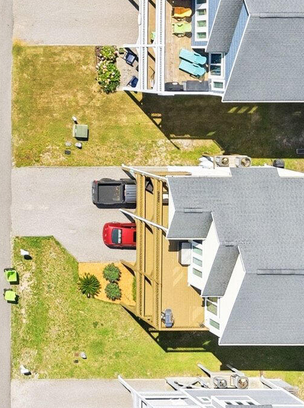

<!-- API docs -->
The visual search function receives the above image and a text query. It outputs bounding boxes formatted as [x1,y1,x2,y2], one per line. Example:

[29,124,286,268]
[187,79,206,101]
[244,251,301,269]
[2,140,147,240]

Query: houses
[119,158,304,347]
[122,0,304,103]
[116,372,304,408]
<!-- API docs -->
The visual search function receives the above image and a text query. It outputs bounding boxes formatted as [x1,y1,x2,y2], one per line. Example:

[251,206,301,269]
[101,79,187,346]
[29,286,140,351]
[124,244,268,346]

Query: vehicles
[95,219,134,247]
[87,175,134,207]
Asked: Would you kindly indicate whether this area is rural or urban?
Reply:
urban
